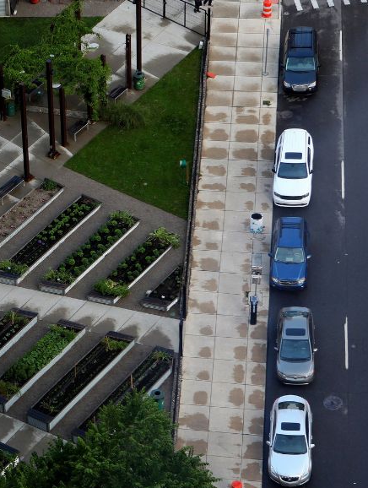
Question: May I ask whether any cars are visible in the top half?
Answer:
Yes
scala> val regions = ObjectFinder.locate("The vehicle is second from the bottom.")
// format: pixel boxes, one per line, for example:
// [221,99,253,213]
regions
[274,306,320,382]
